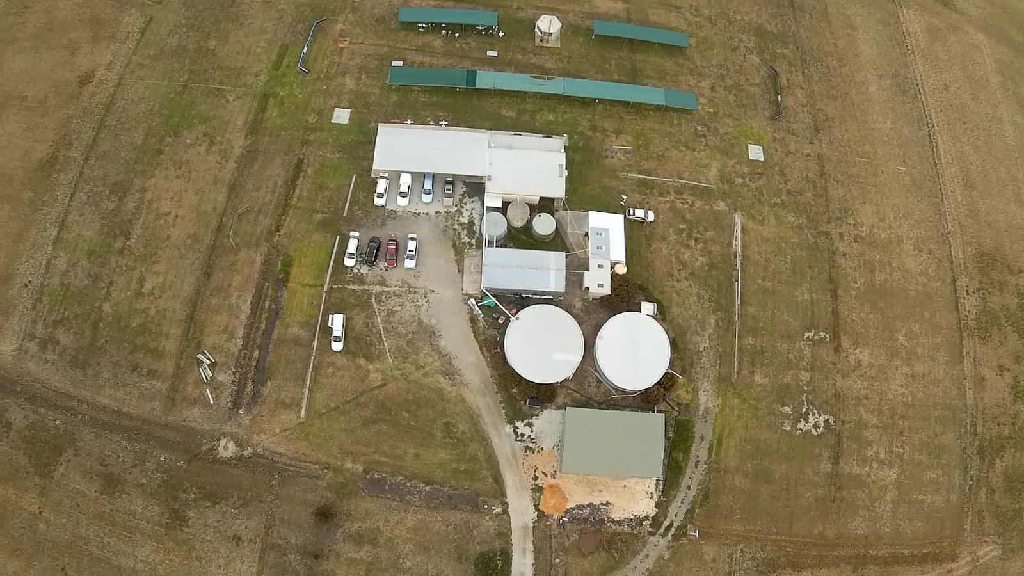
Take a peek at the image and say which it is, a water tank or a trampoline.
water tank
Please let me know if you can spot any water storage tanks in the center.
Yes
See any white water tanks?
Yes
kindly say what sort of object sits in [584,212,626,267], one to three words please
building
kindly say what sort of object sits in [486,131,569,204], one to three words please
building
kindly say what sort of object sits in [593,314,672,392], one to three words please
water tank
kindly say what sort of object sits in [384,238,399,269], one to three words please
car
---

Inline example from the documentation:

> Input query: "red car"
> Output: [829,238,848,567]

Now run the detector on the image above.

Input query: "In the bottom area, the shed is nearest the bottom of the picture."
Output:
[560,405,665,480]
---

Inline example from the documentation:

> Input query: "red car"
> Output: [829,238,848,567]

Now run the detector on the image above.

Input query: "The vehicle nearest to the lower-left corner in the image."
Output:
[324,312,346,352]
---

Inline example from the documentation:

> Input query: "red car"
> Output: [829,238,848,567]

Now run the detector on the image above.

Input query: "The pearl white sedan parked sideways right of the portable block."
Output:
[626,208,655,224]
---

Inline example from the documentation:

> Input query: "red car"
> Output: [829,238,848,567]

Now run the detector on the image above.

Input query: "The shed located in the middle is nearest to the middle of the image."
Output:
[483,248,566,296]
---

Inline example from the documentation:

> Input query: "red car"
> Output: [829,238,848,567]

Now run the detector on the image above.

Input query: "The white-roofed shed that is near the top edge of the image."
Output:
[537,15,561,43]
